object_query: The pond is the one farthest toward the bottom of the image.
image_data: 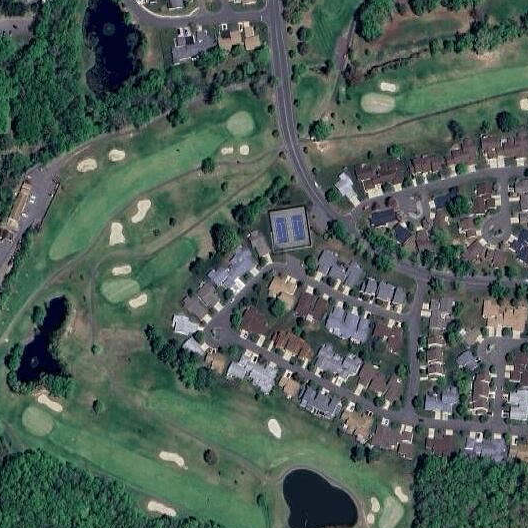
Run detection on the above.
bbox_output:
[283,468,358,528]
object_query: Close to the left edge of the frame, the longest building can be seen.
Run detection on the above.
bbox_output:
[10,185,30,222]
